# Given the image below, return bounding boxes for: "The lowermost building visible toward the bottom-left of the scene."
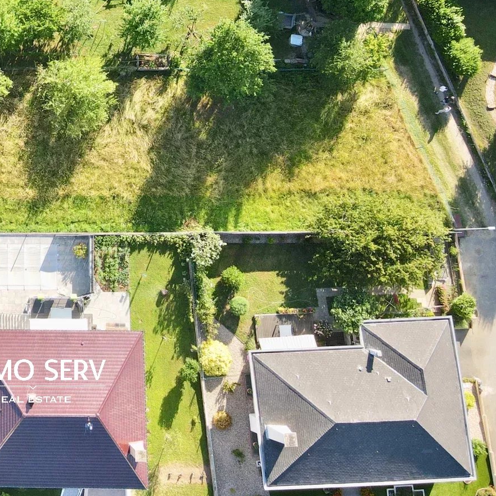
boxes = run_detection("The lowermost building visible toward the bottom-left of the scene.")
[0,328,151,490]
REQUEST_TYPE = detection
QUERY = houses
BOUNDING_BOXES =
[0,328,151,490]
[242,311,481,494]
